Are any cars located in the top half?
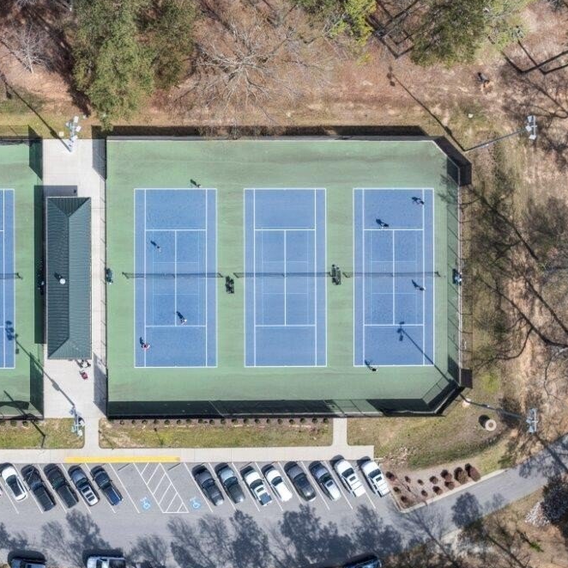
No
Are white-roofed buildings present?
No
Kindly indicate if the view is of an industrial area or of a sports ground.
sports ground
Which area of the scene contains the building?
left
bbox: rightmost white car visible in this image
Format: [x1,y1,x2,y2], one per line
[361,461,391,499]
